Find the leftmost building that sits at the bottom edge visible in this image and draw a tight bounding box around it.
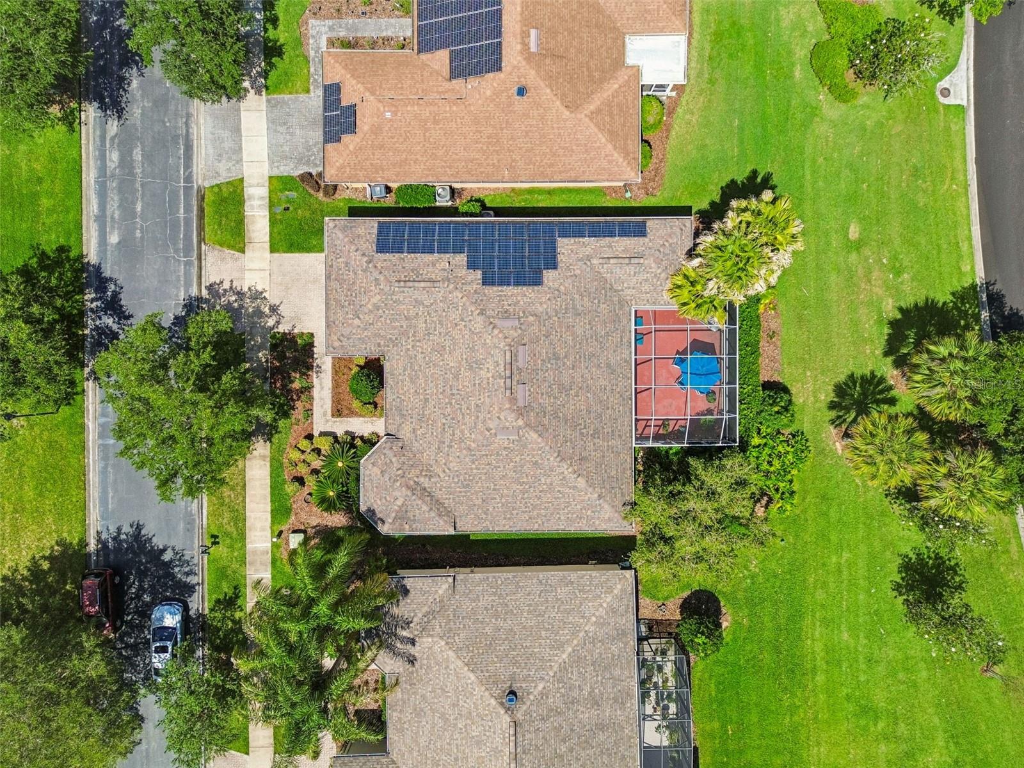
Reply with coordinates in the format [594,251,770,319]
[330,565,640,768]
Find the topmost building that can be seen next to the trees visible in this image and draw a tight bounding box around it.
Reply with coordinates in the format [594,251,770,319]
[321,0,690,204]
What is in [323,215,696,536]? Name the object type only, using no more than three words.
house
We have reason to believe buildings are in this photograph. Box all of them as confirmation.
[330,565,640,768]
[321,0,690,204]
[323,215,696,536]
